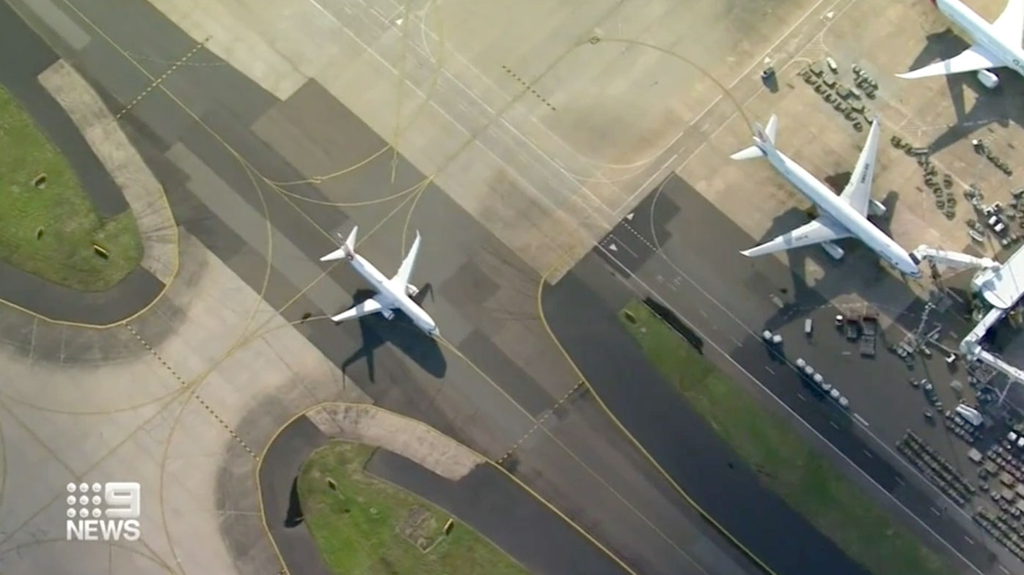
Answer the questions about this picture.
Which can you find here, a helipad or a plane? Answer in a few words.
plane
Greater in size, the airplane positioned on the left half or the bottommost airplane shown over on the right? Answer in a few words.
the bottommost airplane shown over on the right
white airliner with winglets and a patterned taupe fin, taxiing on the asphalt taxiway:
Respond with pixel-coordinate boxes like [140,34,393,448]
[320,226,439,337]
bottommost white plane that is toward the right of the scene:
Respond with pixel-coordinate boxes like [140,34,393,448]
[731,115,921,277]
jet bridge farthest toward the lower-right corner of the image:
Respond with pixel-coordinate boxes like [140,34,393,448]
[959,304,1024,391]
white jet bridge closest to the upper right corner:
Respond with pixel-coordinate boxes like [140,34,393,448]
[907,244,1001,294]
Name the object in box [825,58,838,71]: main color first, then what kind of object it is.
white vehicle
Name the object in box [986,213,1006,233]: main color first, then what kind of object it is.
white vehicle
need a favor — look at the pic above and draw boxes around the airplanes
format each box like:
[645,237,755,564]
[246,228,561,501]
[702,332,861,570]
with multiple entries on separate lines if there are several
[896,0,1024,90]
[731,115,921,277]
[320,226,439,337]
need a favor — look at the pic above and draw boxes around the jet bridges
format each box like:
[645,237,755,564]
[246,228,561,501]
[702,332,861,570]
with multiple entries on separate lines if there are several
[907,244,1001,294]
[959,304,1024,391]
